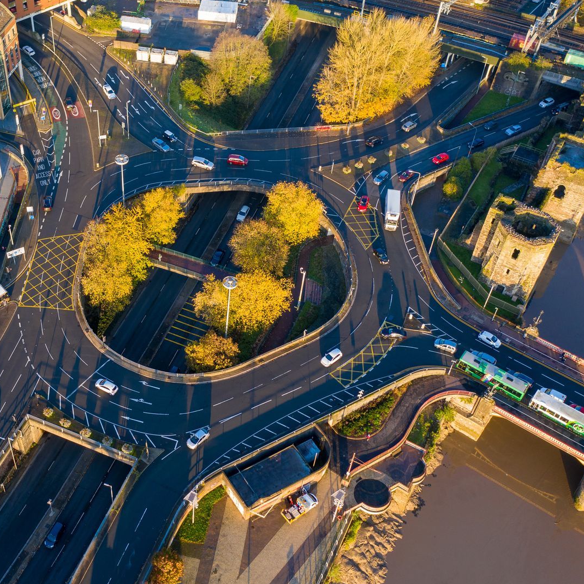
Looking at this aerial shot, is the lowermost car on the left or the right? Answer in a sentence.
You can find the lowermost car on the left side of the picture.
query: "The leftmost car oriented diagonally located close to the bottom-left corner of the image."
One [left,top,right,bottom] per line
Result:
[44,522,66,549]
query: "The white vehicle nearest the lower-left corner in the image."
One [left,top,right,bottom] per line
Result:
[95,380,119,395]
